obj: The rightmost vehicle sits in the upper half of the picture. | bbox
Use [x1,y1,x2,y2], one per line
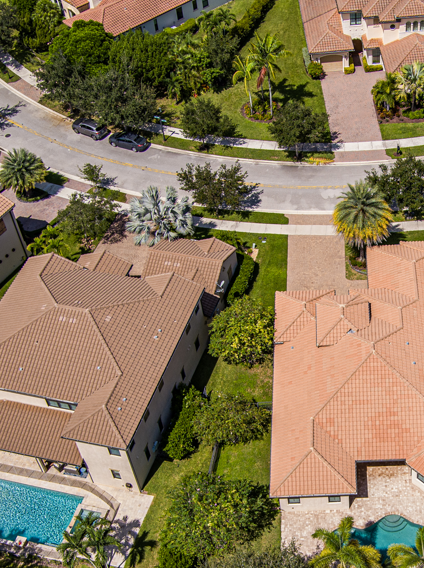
[106,128,148,150]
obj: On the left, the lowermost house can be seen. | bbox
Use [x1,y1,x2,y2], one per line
[0,237,238,492]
